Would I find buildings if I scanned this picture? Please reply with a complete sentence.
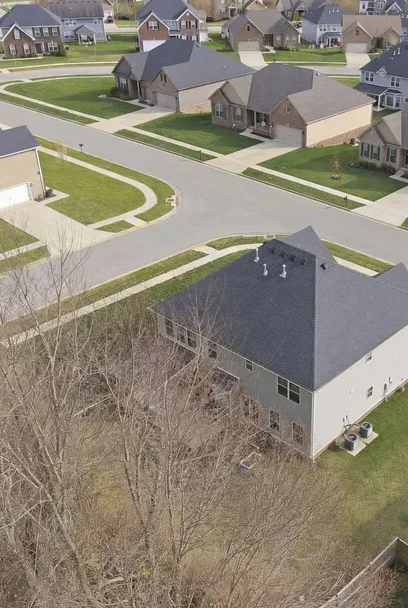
Yes, a building is visible in the scene.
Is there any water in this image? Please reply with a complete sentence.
No, water can't be seen anywhere here.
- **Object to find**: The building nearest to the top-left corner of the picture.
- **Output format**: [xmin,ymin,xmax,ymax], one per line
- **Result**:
[0,1,63,58]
